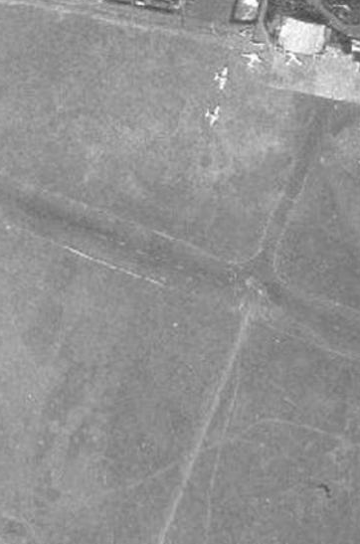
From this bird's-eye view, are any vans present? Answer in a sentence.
No, the picture doesn't show any van.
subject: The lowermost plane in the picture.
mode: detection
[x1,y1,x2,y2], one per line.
[205,106,218,126]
